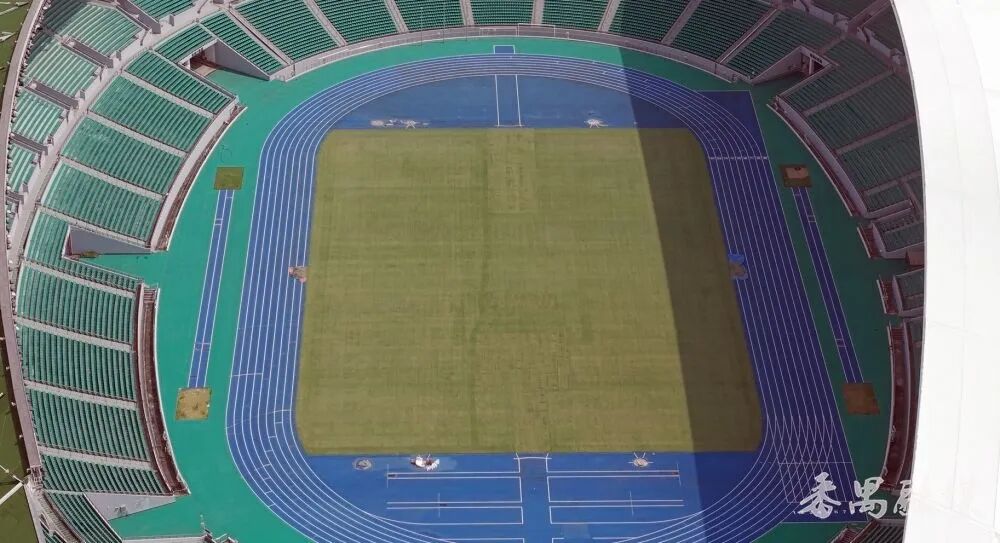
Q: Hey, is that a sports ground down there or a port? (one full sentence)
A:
The area seen from above is a sports ground.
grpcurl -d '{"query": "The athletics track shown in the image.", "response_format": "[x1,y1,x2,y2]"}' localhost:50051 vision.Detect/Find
[226,54,869,543]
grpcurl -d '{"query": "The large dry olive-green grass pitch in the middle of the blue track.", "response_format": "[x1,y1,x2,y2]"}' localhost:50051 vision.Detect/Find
[297,126,762,457]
